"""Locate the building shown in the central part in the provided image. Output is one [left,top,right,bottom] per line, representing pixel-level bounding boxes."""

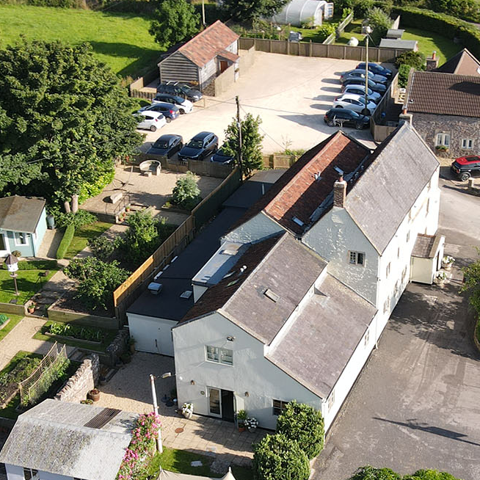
[125,103,453,449]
